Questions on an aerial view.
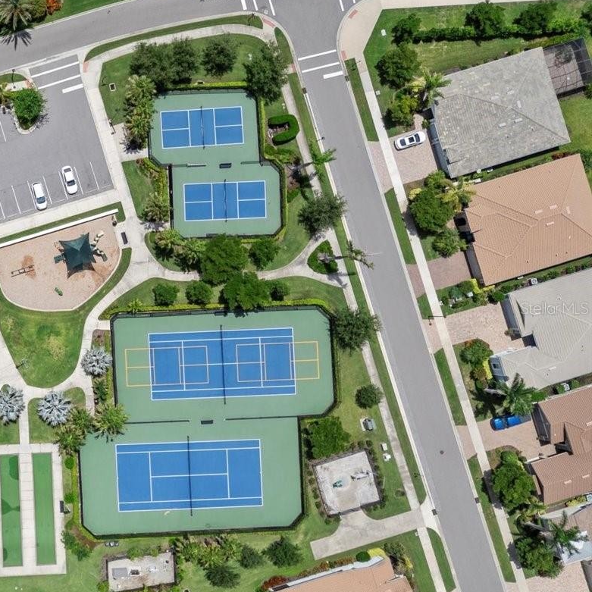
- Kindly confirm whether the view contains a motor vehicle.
Yes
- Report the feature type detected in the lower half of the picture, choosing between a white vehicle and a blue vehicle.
blue vehicle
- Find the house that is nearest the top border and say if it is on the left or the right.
right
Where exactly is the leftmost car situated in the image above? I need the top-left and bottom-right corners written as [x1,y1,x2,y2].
[31,182,47,212]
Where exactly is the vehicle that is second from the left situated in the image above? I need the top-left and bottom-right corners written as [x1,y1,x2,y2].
[62,165,78,197]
